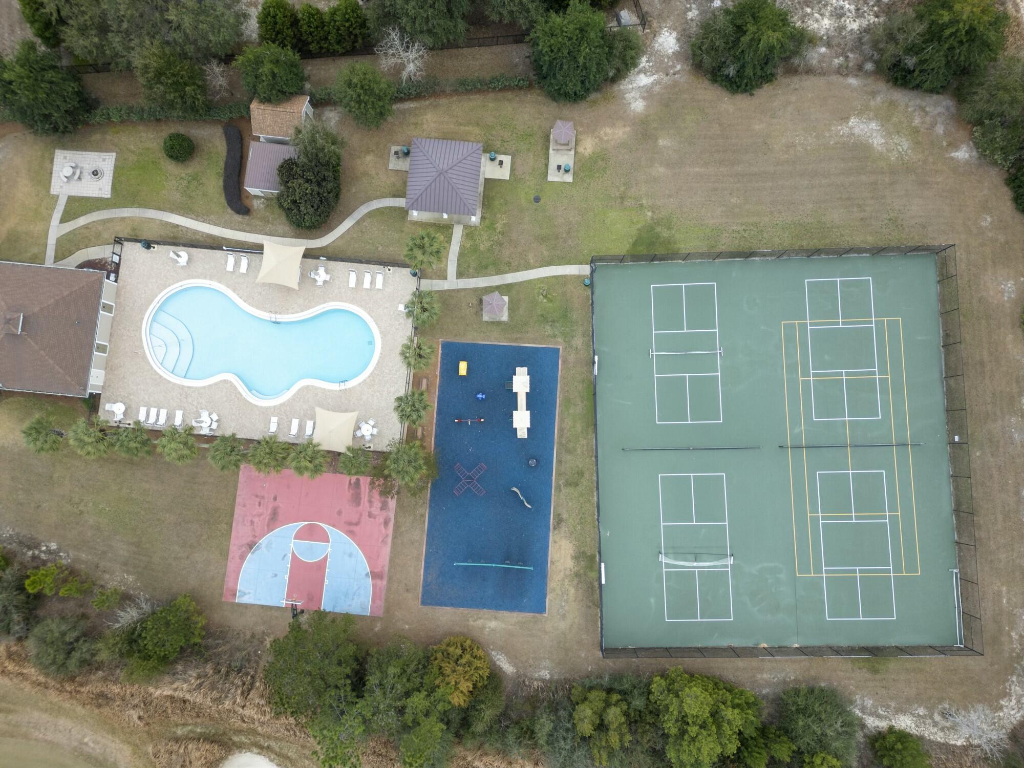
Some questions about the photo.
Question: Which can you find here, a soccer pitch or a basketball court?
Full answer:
I can see a basketball court in this picture.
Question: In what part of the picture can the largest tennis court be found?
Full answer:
The largest tennis court is located in the right region of the scene.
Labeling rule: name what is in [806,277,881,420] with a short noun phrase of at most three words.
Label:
sports court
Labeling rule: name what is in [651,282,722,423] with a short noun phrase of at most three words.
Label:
sports court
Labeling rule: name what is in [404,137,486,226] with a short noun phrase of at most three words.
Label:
building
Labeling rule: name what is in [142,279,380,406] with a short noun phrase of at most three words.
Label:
swimming pool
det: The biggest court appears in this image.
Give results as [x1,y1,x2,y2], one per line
[594,254,963,649]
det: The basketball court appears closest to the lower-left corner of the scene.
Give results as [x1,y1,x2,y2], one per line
[223,465,397,616]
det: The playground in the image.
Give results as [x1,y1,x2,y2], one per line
[419,339,562,616]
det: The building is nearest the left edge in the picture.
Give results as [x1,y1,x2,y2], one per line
[0,263,117,398]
